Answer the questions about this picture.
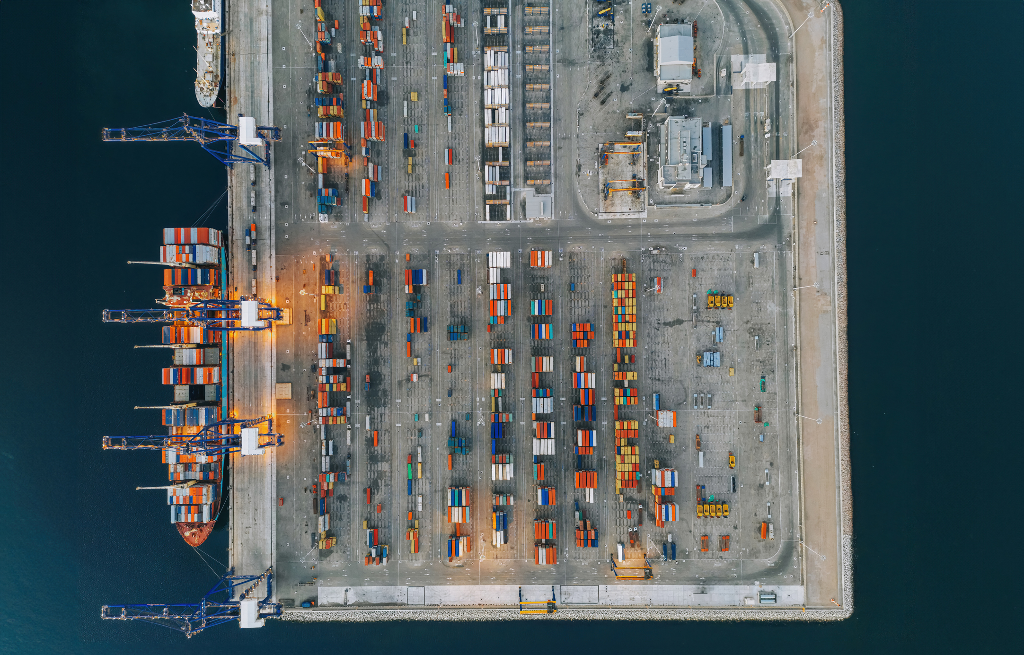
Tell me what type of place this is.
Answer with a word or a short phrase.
port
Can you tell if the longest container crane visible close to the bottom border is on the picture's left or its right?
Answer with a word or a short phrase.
left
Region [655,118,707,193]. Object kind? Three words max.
building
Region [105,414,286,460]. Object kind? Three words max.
container crane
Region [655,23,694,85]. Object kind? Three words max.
building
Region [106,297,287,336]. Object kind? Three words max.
container crane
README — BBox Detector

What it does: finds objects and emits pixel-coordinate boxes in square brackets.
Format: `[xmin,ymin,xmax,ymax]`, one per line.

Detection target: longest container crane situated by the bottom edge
[103,566,285,638]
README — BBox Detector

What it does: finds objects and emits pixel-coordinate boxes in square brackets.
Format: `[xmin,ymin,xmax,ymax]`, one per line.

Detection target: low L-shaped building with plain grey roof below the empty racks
[526,191,551,220]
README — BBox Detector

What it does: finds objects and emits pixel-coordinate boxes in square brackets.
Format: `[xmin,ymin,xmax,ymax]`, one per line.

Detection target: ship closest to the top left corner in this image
[187,0,225,107]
